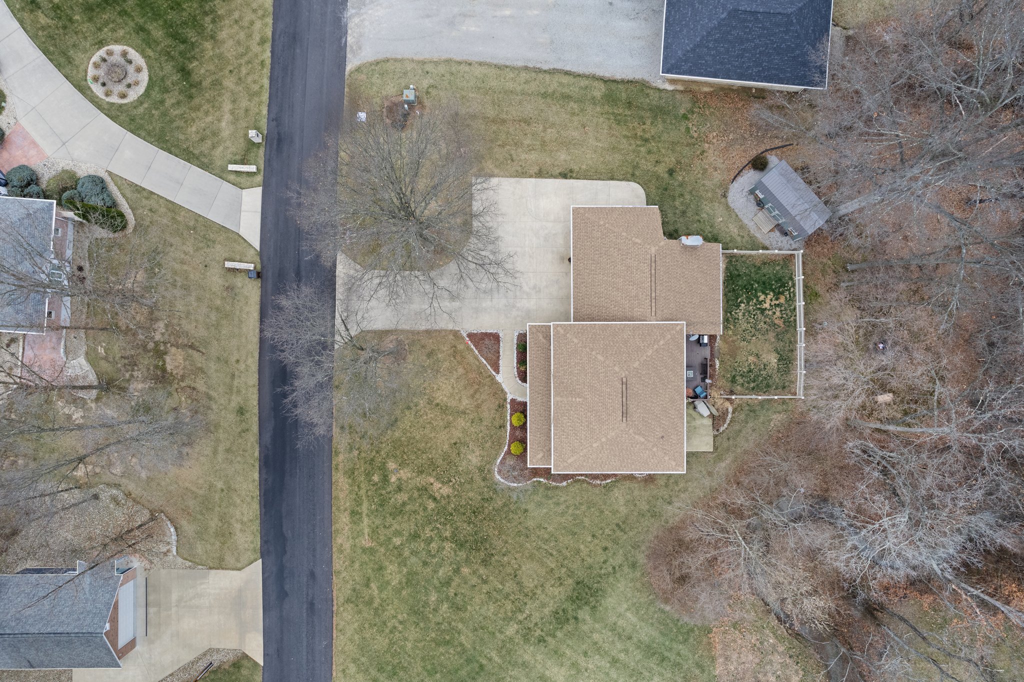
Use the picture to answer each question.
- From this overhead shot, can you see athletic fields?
No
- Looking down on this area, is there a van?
No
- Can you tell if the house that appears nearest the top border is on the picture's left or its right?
right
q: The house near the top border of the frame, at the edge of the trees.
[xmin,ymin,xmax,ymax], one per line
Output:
[659,0,834,97]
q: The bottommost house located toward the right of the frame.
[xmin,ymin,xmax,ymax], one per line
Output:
[527,205,722,474]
